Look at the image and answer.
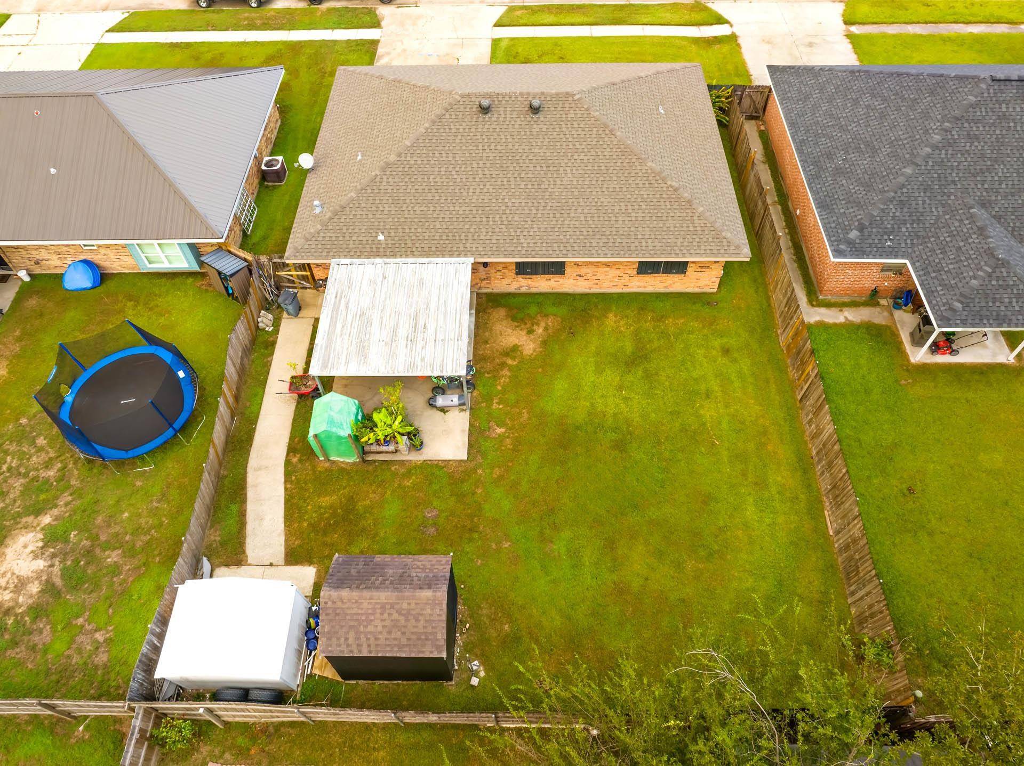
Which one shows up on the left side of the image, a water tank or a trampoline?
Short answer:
trampoline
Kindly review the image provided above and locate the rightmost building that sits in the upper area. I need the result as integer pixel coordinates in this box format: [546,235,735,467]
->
[765,65,1024,362]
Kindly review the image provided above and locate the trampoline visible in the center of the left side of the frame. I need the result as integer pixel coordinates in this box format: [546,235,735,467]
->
[32,319,205,473]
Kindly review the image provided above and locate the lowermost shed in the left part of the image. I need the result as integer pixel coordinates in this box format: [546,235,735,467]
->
[317,553,460,684]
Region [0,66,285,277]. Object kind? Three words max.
house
